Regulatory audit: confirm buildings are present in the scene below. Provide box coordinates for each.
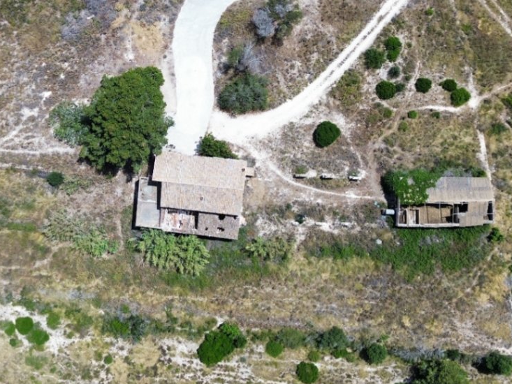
[390,176,494,228]
[136,156,254,241]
